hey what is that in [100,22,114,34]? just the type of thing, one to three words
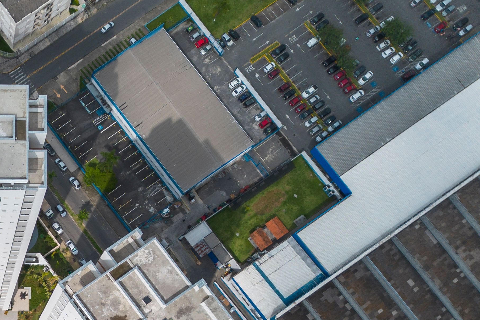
vehicle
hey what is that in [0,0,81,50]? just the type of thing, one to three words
building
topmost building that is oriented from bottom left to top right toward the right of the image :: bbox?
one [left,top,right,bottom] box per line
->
[314,33,480,179]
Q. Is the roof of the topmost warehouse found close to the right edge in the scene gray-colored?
Yes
